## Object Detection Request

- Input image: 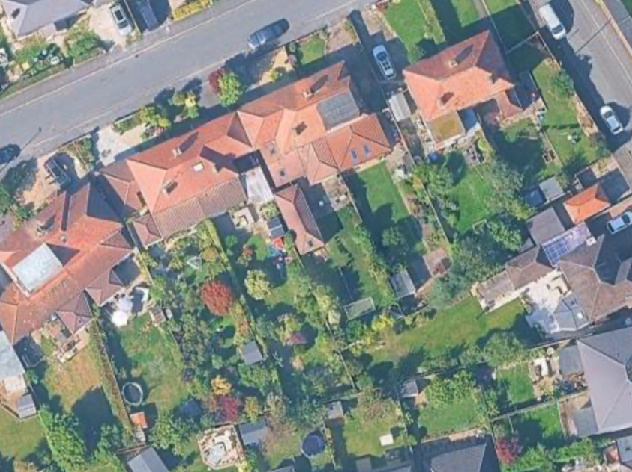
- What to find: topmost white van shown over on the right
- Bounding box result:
[536,0,567,39]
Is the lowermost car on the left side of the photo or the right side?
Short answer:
right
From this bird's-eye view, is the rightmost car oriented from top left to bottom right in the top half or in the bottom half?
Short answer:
top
